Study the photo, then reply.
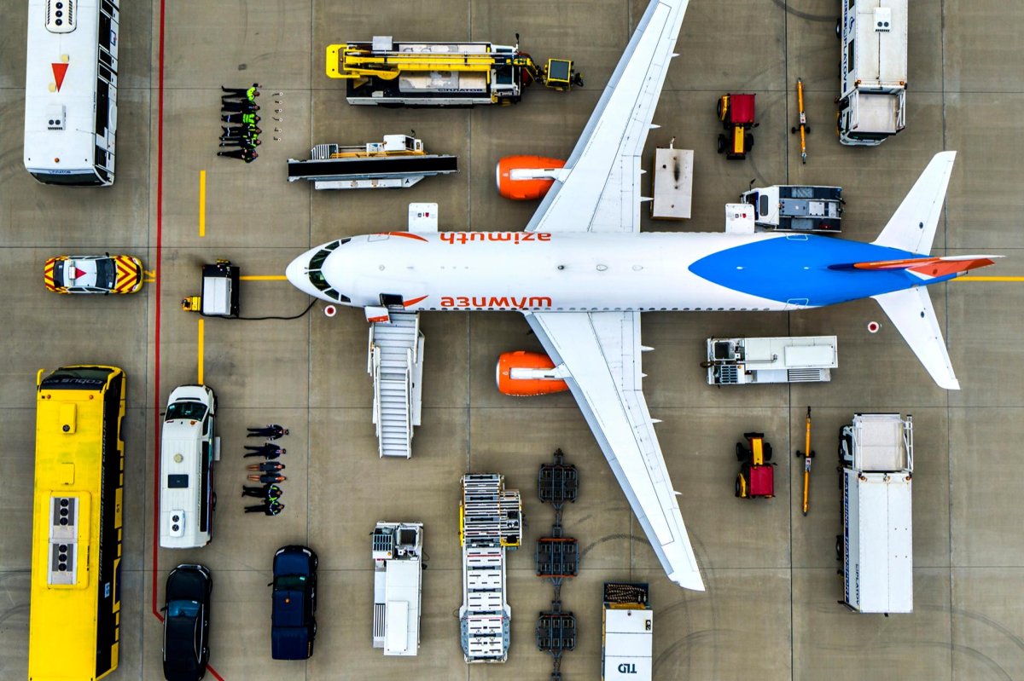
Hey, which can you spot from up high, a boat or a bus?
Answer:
bus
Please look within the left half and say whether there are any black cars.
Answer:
Yes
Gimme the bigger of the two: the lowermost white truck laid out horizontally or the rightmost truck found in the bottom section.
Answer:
the rightmost truck found in the bottom section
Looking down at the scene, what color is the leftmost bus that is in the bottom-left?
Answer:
yellow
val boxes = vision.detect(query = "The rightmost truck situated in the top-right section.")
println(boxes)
[833,0,908,145]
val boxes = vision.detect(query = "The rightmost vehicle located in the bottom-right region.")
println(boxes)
[835,411,913,619]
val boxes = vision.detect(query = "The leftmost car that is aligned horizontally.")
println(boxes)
[43,251,144,297]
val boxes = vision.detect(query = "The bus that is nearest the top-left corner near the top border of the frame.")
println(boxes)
[26,0,117,187]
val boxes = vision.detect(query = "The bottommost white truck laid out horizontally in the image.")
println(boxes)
[700,336,837,392]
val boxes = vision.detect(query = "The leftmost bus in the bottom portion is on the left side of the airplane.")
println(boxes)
[29,361,127,681]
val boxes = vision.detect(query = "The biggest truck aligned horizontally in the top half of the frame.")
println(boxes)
[326,31,584,106]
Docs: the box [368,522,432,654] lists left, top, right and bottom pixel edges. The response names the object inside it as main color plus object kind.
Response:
white truck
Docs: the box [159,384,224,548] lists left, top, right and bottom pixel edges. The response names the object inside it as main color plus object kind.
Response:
white vehicle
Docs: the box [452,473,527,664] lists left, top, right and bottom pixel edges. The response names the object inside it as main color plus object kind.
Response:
white work vehicle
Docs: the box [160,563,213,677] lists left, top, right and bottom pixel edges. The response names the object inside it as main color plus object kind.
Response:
black car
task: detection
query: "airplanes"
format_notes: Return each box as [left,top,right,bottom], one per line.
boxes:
[286,0,1004,590]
